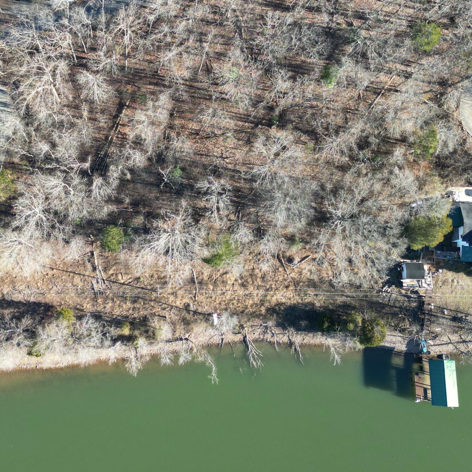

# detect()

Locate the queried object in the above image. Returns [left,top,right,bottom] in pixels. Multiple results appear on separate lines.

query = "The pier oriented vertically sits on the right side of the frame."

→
[411,352,432,402]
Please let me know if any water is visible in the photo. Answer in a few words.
Yes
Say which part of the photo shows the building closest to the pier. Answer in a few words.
bottom right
